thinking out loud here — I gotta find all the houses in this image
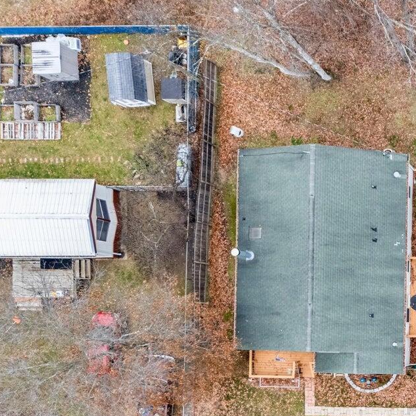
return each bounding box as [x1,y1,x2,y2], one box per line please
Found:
[0,179,125,259]
[233,144,416,376]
